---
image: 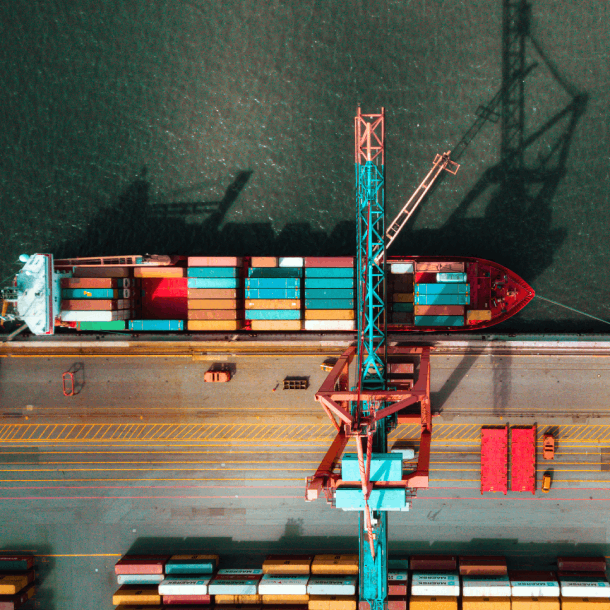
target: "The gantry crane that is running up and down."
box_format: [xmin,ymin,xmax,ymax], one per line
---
[306,105,438,610]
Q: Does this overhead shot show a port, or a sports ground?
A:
port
